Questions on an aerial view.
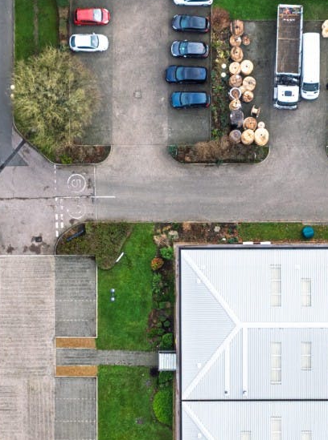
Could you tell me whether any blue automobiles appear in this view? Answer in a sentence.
Yes, there's a blue automobile down there.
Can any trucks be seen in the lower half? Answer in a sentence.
No, looking in the lower half, there is no truck.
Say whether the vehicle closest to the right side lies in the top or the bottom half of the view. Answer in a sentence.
The vehicle closest to the right side sits in the top half of the picture.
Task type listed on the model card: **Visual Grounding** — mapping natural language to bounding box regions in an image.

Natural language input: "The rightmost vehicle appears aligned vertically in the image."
[300,31,321,99]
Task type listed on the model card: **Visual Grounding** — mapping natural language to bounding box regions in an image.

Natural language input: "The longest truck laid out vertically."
[275,4,301,110]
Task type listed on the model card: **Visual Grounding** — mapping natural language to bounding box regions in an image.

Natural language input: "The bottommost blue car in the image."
[172,90,209,109]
